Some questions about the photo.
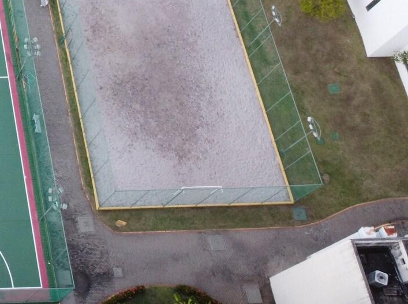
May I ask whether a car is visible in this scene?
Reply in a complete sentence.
No, no car can be seen from above.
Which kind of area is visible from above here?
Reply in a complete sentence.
It's a sports ground.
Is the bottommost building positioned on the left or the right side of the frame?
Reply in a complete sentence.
The bottommost building is on the right side of the image.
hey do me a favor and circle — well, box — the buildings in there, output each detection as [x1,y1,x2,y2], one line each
[352,0,408,56]
[268,220,408,304]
